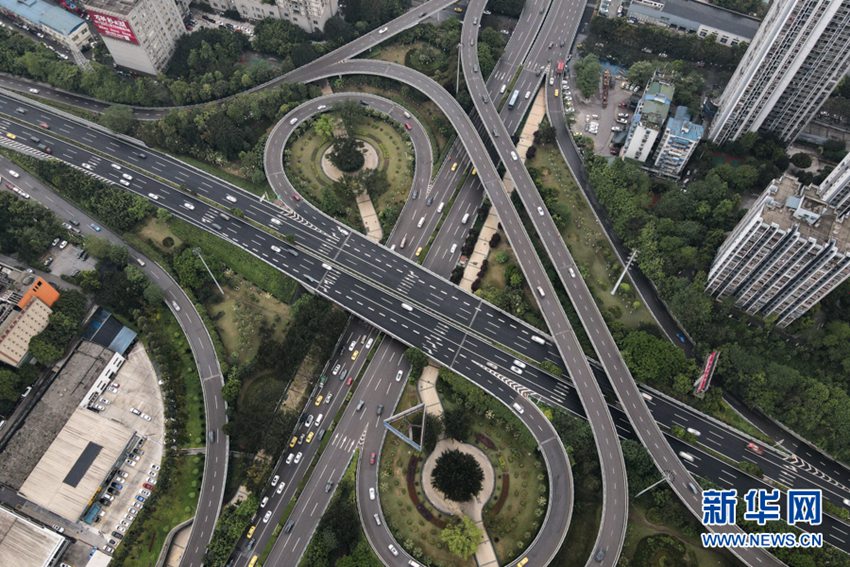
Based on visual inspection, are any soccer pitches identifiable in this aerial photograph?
No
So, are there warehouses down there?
Yes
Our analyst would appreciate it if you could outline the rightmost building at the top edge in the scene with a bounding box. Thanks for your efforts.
[708,0,850,154]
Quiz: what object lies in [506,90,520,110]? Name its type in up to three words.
vehicle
